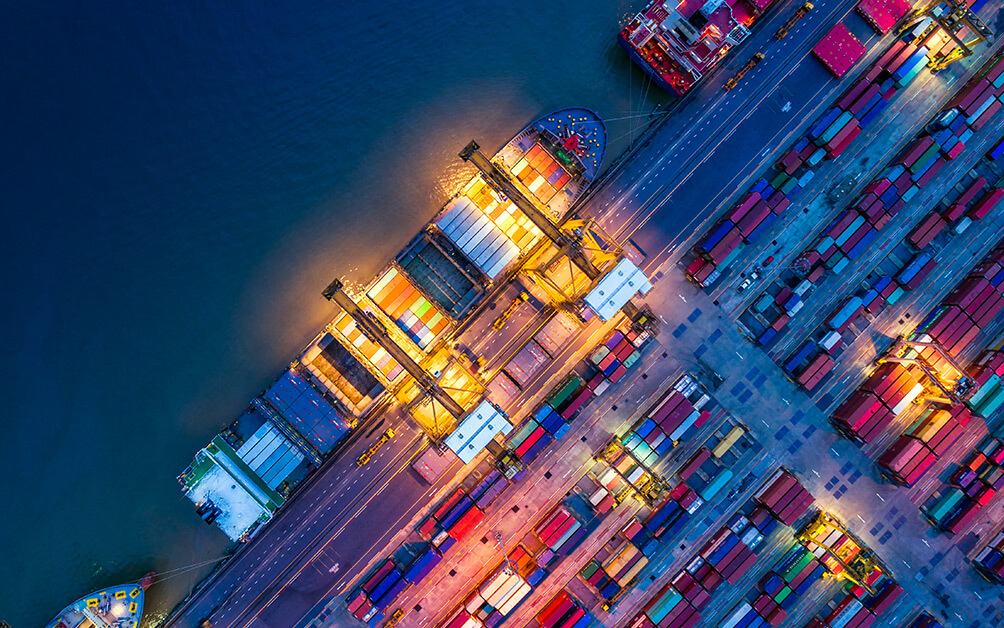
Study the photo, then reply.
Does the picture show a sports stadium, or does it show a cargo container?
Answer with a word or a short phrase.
cargo container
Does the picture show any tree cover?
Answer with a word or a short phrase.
No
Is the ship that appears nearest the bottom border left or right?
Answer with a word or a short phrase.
left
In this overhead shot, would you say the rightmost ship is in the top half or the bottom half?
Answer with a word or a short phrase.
top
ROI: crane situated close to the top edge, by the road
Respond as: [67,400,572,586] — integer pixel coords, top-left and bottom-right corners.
[887,0,993,69]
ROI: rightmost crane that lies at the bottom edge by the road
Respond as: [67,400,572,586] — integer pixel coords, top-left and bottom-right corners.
[795,511,898,597]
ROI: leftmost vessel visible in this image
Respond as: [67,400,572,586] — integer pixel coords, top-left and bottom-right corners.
[44,572,157,628]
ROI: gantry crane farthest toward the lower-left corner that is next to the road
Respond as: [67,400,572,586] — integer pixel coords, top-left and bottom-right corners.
[319,277,532,485]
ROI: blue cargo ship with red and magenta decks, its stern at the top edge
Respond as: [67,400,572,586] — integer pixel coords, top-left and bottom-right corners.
[619,0,775,96]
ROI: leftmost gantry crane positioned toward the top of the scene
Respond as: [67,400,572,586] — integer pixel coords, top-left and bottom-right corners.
[454,139,666,350]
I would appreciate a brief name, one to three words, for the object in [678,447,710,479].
shipping container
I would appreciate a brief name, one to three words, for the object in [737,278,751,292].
vehicle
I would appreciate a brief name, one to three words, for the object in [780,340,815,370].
shipping container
